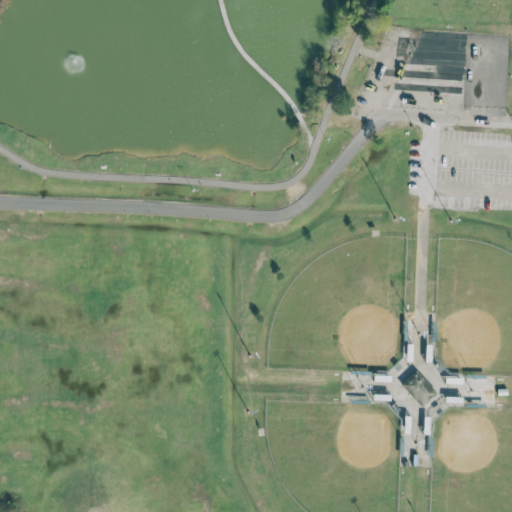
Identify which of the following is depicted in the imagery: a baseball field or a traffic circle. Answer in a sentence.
This aerial view contains a baseball field.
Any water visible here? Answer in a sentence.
Yes, there's water in this view.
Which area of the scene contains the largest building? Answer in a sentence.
The largest building appears toward the bottom right of the photo.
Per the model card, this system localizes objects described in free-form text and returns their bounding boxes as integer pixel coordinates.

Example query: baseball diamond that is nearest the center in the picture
[268,236,406,372]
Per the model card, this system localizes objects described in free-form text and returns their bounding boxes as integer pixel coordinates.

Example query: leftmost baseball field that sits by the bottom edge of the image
[266,400,401,512]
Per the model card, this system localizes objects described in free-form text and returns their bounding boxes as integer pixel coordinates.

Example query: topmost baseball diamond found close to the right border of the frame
[437,238,512,376]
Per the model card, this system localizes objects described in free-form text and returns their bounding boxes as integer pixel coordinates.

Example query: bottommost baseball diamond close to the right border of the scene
[430,404,512,512]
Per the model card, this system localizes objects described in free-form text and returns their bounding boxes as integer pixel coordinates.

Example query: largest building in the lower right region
[404,370,437,405]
